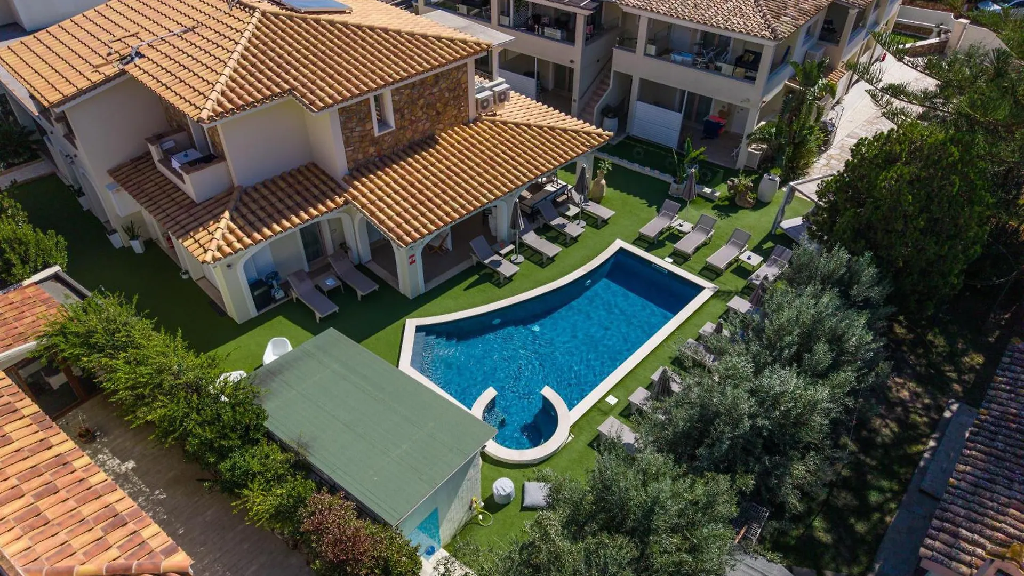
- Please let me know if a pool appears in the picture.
Yes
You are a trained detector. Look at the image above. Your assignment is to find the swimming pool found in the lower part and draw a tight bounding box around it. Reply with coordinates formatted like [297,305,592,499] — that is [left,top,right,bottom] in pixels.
[399,239,718,461]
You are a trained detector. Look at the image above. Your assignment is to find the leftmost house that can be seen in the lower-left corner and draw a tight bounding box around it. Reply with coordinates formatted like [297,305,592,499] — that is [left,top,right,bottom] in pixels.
[0,370,193,576]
